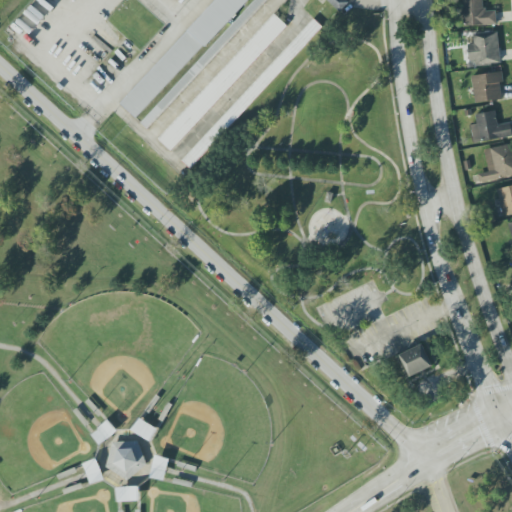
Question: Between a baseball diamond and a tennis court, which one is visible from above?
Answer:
baseball diamond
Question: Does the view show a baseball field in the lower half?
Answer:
Yes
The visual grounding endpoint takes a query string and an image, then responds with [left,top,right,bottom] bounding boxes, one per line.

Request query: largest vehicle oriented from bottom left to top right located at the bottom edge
[360,496,380,510]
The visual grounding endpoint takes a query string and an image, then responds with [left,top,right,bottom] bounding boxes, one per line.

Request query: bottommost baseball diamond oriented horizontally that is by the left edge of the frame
[4,480,116,512]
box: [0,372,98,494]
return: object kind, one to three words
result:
baseball field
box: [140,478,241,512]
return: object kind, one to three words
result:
baseball field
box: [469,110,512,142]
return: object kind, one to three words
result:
house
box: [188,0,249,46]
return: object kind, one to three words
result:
shed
